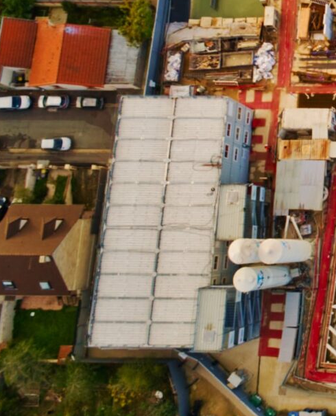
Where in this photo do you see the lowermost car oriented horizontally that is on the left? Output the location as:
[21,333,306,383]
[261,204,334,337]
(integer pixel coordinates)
[37,136,70,151]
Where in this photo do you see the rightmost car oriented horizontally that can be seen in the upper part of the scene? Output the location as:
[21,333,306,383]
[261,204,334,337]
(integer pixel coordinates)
[72,94,103,109]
